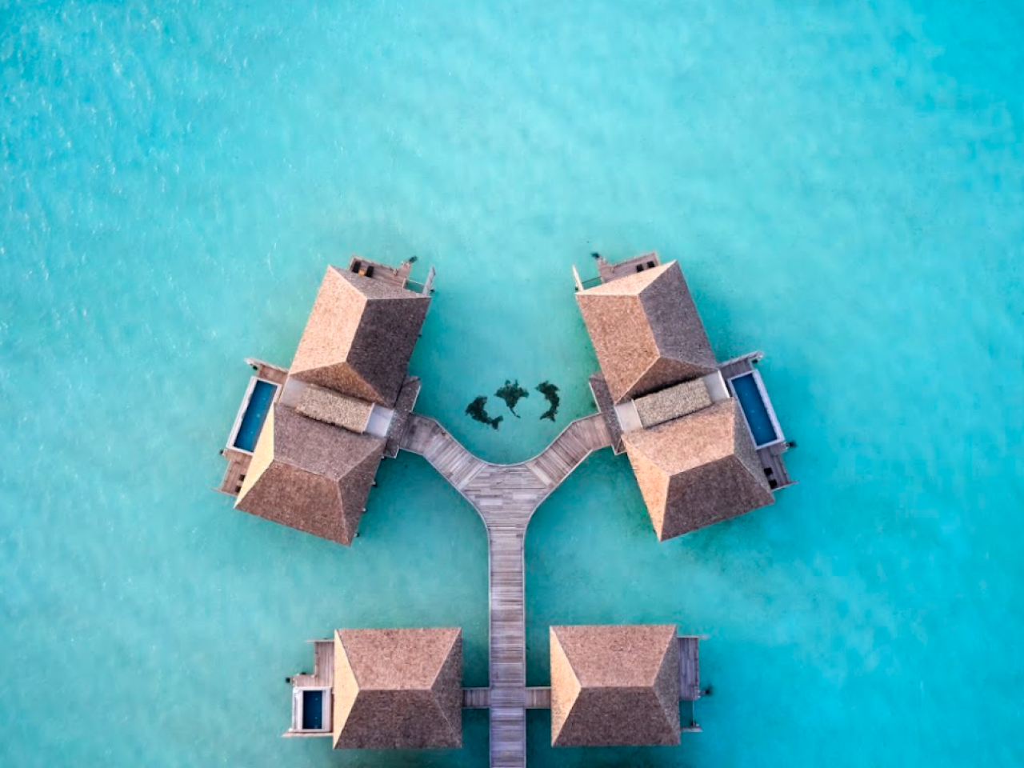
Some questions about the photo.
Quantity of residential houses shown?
four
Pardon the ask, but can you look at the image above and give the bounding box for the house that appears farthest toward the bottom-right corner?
[549,625,709,747]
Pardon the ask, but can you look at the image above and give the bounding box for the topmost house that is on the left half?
[212,255,435,546]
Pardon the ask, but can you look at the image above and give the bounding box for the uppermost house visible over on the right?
[571,252,796,542]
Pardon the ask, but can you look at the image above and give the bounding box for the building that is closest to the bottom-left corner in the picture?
[281,626,463,751]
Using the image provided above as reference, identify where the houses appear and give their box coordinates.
[549,625,709,747]
[281,626,463,751]
[212,255,435,546]
[571,252,796,542]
